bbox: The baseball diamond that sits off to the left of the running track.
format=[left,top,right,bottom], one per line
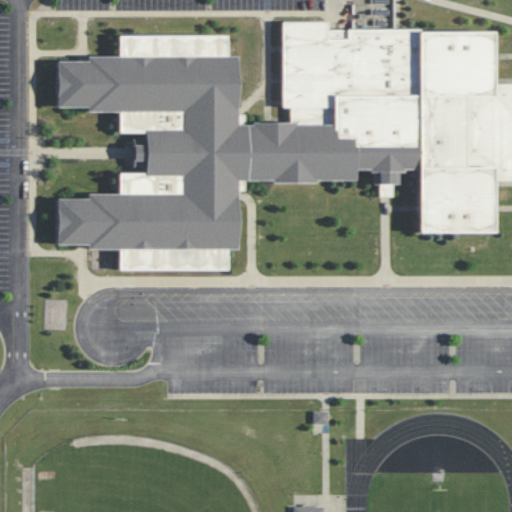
[23,434,256,512]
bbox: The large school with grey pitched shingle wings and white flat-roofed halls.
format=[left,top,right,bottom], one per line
[58,22,512,272]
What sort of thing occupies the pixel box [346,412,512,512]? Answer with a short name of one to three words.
running track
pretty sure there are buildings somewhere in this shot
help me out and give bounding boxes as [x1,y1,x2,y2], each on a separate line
[293,507,324,512]
[58,22,512,272]
[314,411,329,432]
